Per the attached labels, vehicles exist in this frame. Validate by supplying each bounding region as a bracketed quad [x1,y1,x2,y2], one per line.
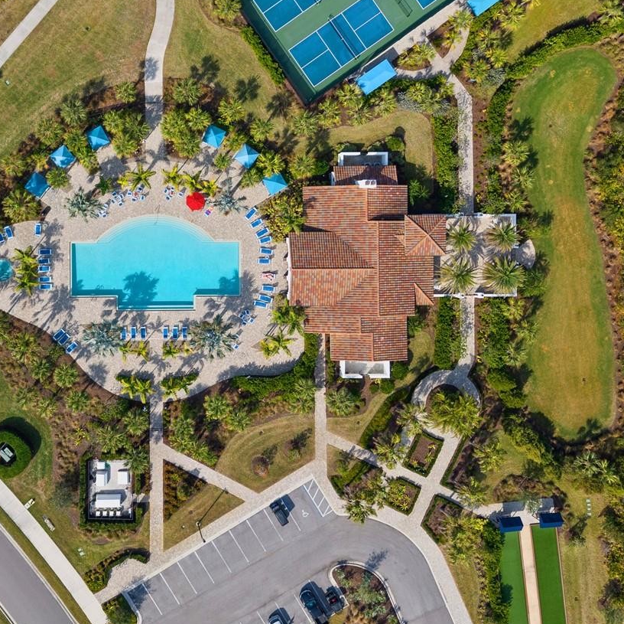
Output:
[300,587,328,624]
[268,502,289,530]
[324,587,343,612]
[269,613,286,624]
